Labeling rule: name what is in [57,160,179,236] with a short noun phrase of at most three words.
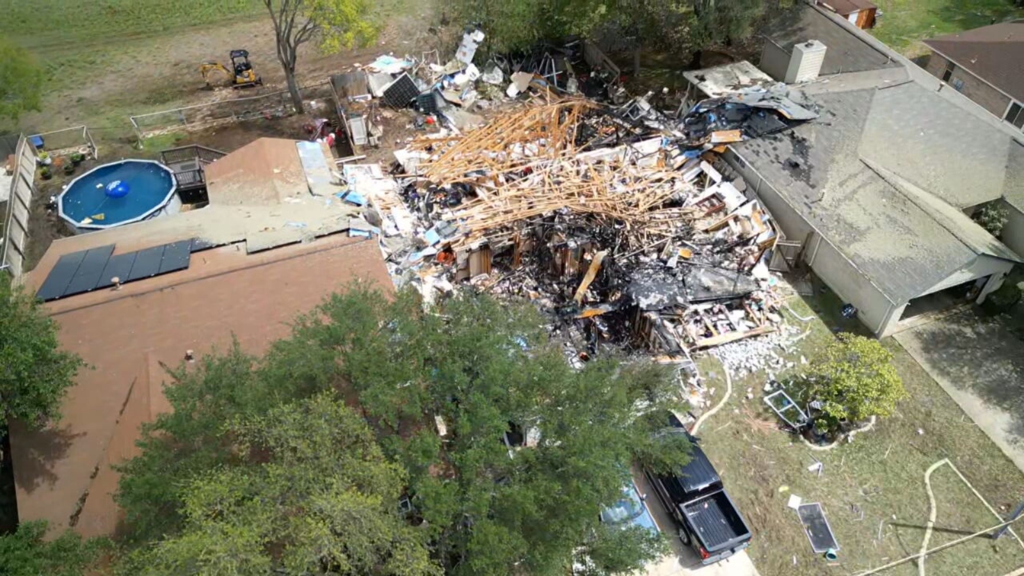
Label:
swimming pool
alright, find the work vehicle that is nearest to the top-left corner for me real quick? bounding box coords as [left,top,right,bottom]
[200,49,267,92]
